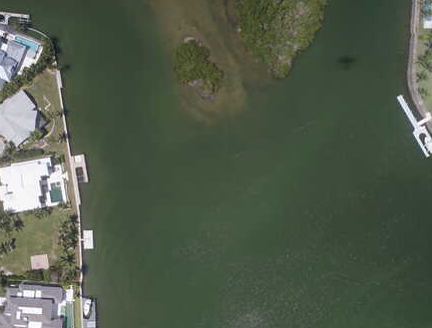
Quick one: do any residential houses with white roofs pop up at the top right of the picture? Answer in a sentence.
No, I can find no residential house with a white roof at the top right of the picture.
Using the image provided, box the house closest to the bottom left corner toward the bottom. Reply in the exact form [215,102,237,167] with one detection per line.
[0,283,65,328]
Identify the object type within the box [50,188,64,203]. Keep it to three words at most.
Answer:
swimming pool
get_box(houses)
[0,283,65,328]
[0,89,47,154]
[0,30,33,85]
[0,158,54,213]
